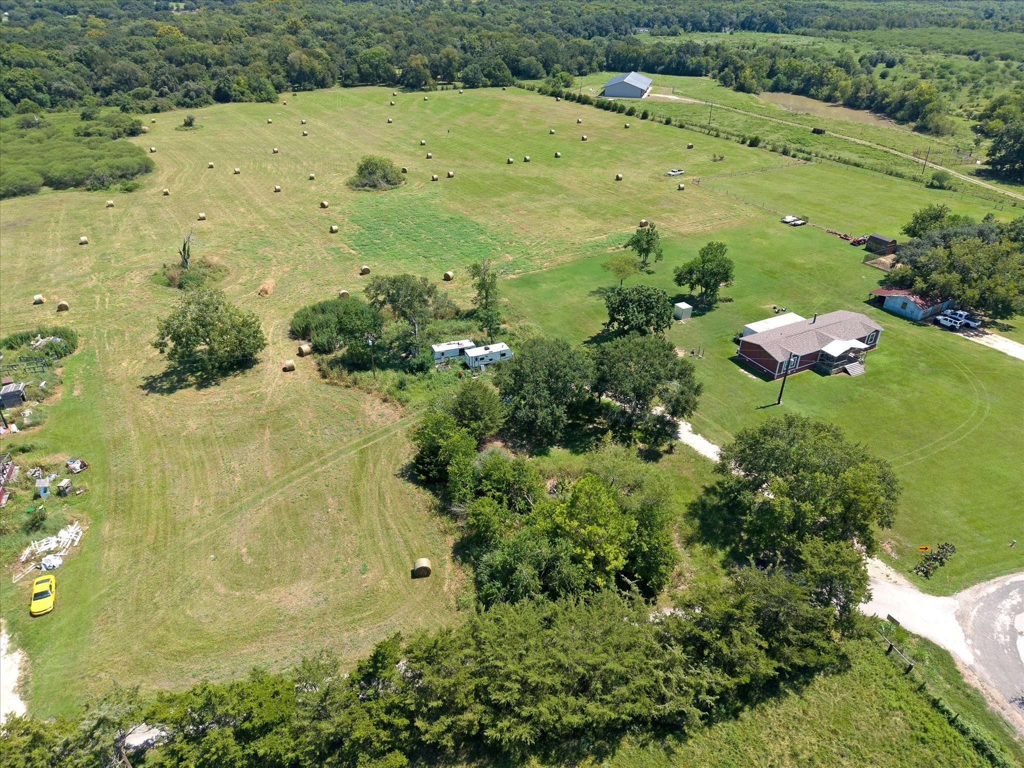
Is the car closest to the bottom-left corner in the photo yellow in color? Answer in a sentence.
Yes, the car closest to the bottom-left corner is yellow.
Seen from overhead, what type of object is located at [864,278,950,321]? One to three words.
barn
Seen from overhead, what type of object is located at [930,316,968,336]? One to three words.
car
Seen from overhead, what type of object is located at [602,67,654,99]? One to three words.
building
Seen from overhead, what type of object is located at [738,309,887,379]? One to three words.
house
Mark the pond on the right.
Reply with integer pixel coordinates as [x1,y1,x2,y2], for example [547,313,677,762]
[762,96,898,132]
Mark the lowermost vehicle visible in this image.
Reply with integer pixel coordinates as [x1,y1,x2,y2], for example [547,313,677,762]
[25,568,62,616]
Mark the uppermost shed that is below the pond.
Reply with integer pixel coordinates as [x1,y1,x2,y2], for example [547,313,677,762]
[867,231,901,257]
